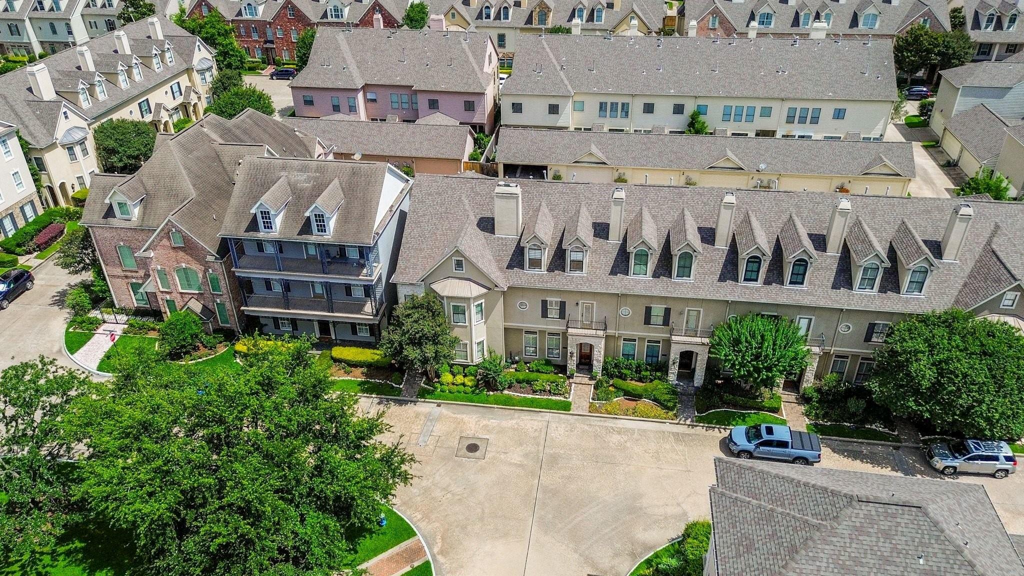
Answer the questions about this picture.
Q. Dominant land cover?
buildings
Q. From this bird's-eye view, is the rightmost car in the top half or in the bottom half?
bottom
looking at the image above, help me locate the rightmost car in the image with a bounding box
[921,434,1024,479]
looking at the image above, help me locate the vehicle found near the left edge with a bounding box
[0,270,33,309]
